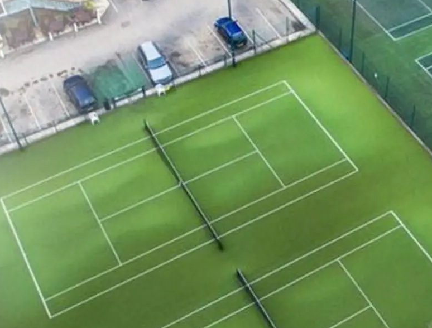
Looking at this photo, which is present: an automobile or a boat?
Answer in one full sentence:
There is an automobile in the scene.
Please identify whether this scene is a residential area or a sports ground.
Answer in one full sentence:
What you see here is a sports ground.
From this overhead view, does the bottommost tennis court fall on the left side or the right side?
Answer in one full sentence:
The bottommost tennis court sits on the right side.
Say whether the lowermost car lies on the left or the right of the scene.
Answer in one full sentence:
You can find the lowermost car on the left side of the picture.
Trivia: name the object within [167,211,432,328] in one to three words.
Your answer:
tennis court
